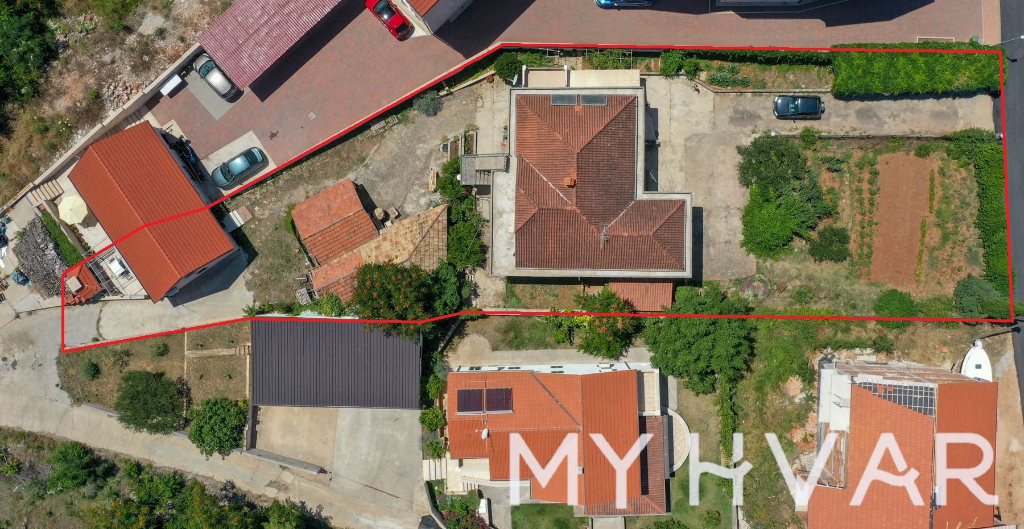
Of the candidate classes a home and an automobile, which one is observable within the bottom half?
home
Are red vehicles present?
Yes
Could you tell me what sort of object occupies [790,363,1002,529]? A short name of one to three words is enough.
house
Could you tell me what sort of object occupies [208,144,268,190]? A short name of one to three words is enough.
car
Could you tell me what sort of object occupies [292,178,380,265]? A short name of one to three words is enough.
shed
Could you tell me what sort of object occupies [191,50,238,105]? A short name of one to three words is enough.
car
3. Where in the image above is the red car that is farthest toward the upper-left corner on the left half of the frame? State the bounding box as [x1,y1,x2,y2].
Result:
[364,0,415,42]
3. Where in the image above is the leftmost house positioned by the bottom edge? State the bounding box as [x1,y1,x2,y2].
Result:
[447,359,669,521]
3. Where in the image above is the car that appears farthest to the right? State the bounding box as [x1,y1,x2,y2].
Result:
[774,91,829,119]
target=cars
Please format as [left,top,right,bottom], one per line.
[191,50,238,105]
[208,144,268,190]
[364,0,415,42]
[774,91,829,119]
[596,0,654,8]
